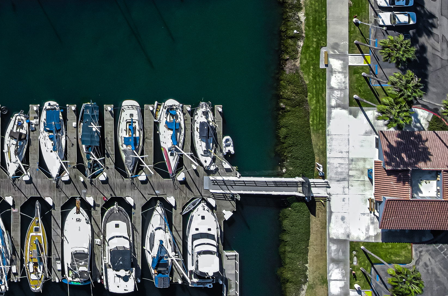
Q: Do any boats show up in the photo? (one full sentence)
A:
Yes, a boat can be made out from above.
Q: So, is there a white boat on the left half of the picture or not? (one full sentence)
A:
Yes, the scene does show a white boat on the left half of the picture.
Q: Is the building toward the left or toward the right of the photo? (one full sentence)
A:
The building appears in the right half of the scene.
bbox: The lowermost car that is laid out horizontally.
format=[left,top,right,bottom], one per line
[376,11,416,26]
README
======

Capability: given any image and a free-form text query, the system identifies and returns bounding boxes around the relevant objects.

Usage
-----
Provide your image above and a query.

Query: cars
[375,0,413,8]
[376,11,416,26]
